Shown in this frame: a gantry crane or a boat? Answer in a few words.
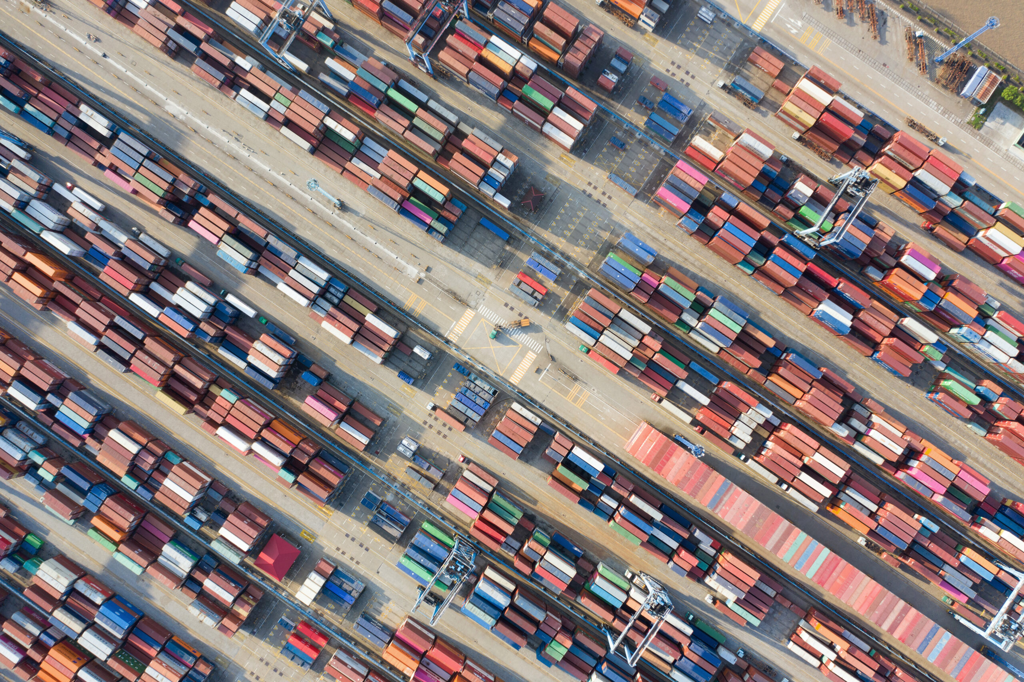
gantry crane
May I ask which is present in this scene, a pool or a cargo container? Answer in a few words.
cargo container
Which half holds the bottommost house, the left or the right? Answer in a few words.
left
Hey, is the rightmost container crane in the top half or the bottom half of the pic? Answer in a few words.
bottom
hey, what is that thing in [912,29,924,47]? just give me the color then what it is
white vehicle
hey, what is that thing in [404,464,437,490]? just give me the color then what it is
gray shipping container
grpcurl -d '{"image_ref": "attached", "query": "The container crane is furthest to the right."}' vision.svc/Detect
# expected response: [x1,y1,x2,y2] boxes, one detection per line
[943,551,1024,660]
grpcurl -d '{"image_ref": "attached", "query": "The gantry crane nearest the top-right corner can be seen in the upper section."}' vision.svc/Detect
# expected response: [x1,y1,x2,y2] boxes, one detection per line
[790,159,888,252]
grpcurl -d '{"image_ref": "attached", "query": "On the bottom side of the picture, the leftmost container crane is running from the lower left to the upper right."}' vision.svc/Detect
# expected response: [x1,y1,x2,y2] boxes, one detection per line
[404,530,485,633]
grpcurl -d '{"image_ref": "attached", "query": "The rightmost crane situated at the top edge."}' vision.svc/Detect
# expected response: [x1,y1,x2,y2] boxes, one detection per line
[400,0,478,81]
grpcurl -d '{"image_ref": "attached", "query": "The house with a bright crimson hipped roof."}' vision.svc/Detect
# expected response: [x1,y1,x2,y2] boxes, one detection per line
[254,526,300,580]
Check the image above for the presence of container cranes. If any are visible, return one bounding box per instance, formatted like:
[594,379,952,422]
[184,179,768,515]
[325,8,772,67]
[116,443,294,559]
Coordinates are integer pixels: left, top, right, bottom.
[943,551,1024,660]
[790,159,888,252]
[404,530,485,633]
[253,0,342,80]
[400,0,478,81]
[598,570,682,677]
